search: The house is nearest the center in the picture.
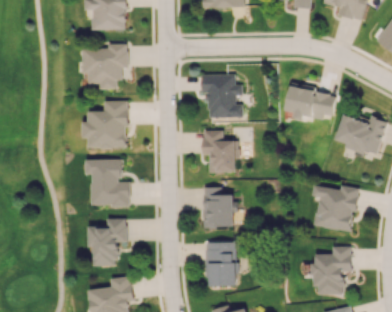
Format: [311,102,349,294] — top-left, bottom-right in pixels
[202,130,241,174]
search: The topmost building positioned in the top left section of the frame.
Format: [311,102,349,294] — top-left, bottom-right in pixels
[84,0,126,30]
